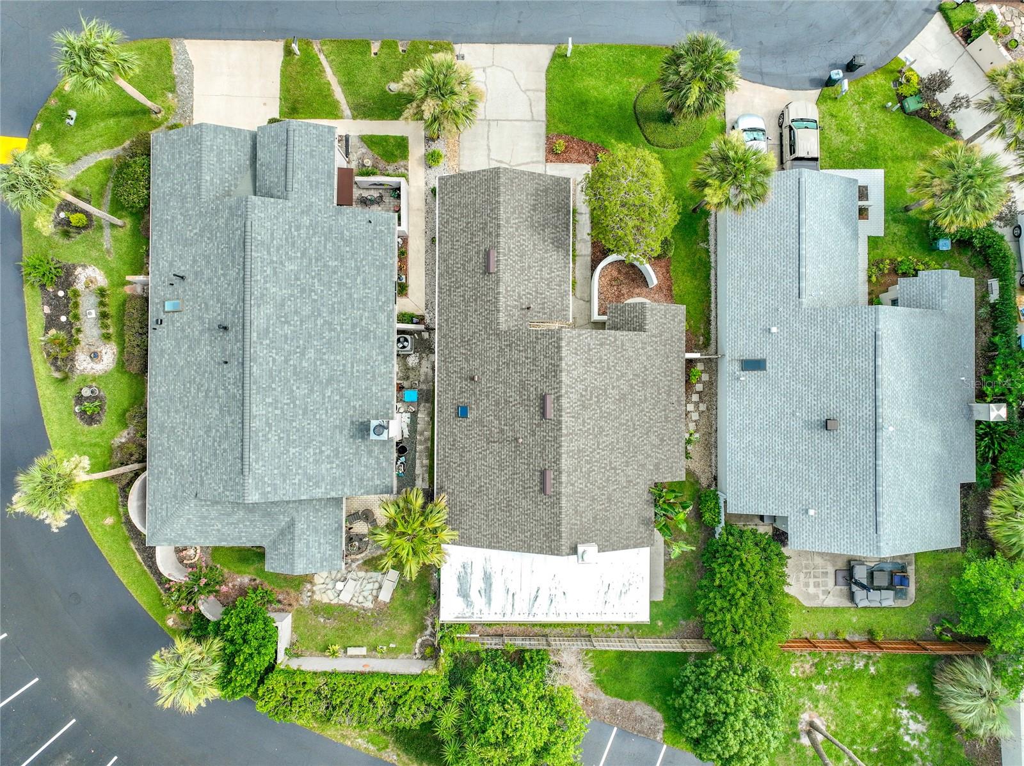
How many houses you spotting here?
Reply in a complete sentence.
The photo contains 3 houses.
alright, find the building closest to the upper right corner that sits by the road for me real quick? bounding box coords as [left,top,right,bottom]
[718,169,1007,556]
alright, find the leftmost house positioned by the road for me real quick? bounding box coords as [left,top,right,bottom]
[145,120,406,575]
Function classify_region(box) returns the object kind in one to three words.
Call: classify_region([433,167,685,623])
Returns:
house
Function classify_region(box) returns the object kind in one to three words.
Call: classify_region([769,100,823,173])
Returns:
truck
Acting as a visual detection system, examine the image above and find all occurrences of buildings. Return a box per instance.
[433,167,685,623]
[145,120,406,575]
[718,169,1007,556]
